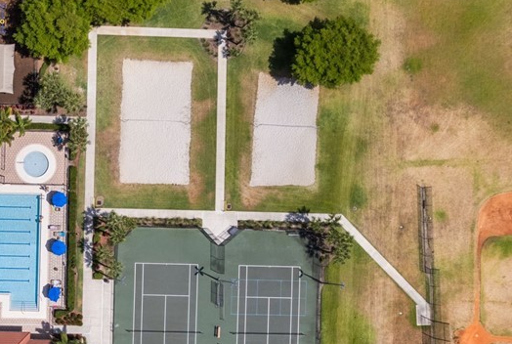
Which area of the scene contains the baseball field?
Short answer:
bottom right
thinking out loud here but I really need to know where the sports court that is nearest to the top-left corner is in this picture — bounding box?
[119,60,195,184]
